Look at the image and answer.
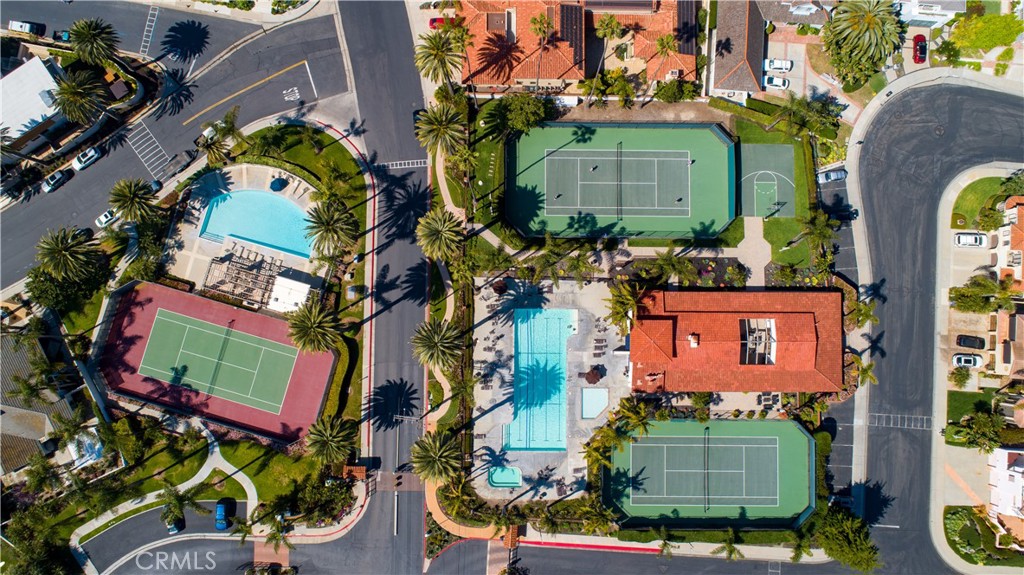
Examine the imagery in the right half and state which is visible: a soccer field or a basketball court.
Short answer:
basketball court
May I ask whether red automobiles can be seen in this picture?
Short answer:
Yes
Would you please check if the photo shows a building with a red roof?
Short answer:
Yes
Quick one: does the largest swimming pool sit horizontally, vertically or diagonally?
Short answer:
vertically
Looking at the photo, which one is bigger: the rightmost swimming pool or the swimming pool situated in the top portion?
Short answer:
the swimming pool situated in the top portion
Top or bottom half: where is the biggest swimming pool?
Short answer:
bottom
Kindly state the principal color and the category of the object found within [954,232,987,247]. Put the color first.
white car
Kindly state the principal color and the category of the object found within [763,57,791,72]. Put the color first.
white car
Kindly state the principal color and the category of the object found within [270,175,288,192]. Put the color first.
blue umbrella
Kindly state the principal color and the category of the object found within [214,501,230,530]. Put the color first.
blue car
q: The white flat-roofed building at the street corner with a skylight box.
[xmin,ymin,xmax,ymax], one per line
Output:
[0,43,84,171]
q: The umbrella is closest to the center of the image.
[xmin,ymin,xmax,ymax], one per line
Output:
[494,282,507,295]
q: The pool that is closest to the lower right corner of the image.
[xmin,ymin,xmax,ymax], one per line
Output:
[580,386,611,421]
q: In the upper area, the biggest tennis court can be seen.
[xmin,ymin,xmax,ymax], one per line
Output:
[506,128,727,236]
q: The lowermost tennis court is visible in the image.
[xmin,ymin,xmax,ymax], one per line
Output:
[603,418,809,523]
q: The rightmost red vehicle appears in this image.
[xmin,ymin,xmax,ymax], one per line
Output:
[912,34,929,64]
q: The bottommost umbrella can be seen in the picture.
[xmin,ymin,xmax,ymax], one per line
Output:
[585,369,600,384]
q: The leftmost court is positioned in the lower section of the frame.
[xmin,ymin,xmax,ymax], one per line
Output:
[102,284,336,440]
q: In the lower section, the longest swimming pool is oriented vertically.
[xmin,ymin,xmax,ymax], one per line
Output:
[501,307,580,453]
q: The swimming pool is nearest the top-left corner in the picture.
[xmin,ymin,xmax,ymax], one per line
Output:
[197,189,314,260]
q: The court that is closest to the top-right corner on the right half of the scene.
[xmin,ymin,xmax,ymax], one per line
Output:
[741,143,795,217]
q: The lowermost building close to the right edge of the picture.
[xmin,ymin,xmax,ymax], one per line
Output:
[987,445,1024,515]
